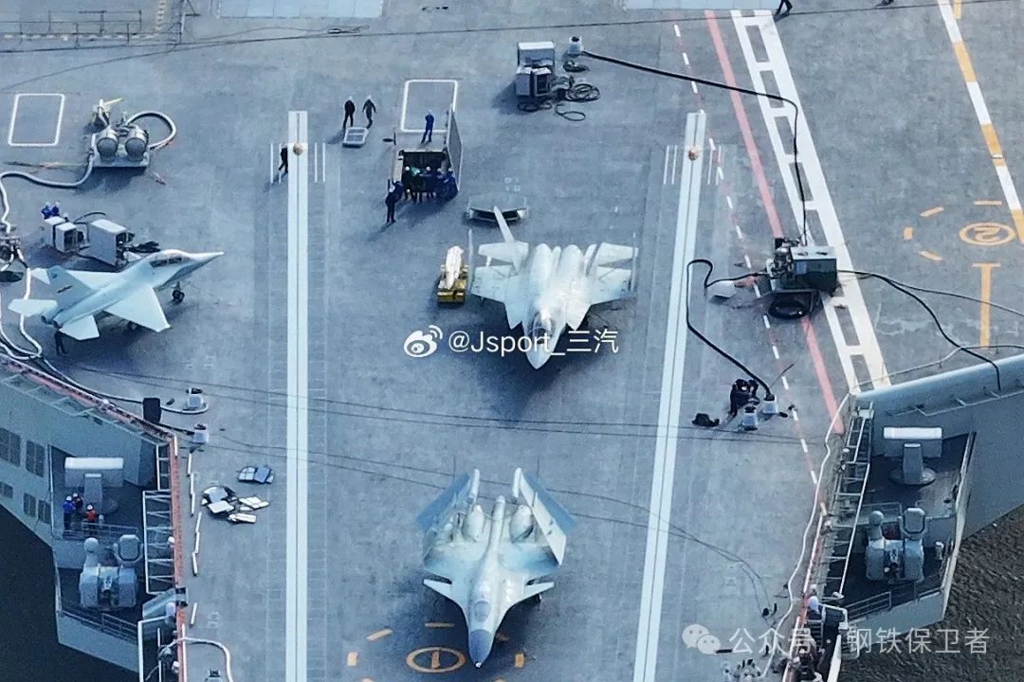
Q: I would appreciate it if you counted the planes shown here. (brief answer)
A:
three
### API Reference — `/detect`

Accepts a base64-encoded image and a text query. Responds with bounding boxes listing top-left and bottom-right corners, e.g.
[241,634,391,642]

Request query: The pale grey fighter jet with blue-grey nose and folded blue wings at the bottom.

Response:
[418,466,578,669]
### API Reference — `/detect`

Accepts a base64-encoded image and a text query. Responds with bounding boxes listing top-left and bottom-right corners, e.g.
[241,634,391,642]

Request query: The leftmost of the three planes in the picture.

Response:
[5,254,223,341]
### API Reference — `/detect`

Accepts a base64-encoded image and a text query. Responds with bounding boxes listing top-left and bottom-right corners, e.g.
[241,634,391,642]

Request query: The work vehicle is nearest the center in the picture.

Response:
[466,193,527,219]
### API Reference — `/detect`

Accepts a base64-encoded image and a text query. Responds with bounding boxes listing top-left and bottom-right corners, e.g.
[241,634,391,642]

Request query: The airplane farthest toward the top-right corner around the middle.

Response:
[466,204,637,369]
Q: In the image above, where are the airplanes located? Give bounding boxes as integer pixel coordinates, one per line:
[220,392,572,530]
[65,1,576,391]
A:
[466,204,637,369]
[418,466,578,669]
[5,254,223,341]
